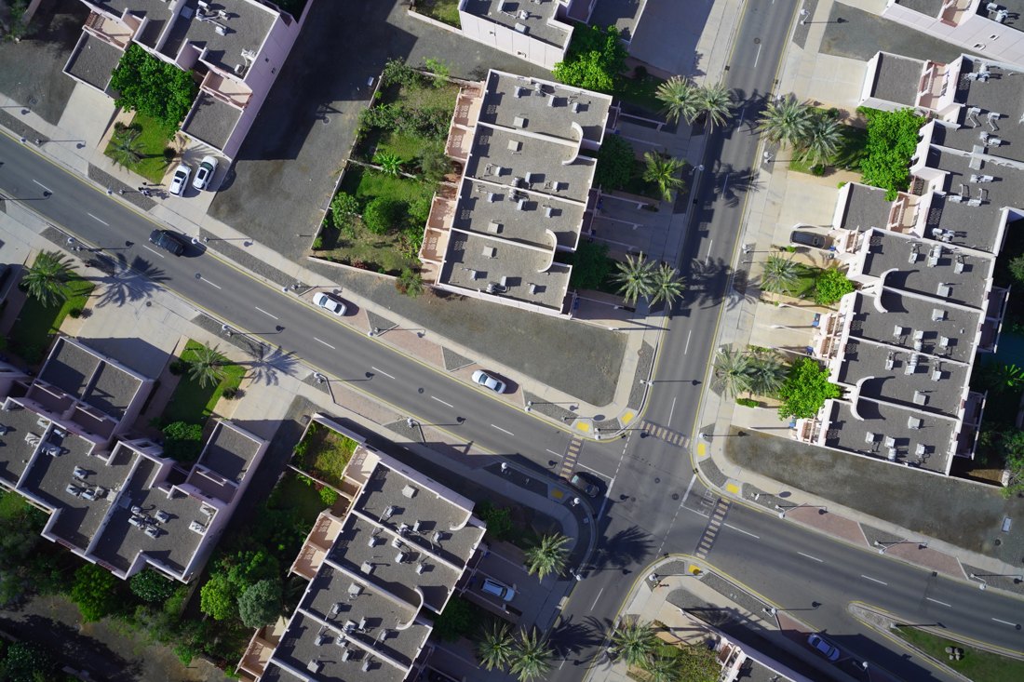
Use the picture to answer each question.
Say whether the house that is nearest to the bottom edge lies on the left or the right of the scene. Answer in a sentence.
The house that is nearest to the bottom edge is on the right side of the image.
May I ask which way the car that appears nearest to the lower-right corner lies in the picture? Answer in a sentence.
In this picture, the car that appears nearest to the lower-right corner is oriented on a diagonal.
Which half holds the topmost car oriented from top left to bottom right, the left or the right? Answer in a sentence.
The topmost car oriented from top left to bottom right sits on the left side.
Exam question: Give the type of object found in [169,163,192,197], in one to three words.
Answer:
car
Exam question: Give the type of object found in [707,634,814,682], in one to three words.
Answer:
house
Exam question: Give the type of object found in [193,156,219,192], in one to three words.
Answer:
car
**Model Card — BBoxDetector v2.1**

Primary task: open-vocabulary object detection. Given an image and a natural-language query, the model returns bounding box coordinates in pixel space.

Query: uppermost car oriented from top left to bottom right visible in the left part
[150,229,188,258]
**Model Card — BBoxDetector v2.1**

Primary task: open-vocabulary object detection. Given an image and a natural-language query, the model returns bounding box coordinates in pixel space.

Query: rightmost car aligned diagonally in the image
[806,631,840,660]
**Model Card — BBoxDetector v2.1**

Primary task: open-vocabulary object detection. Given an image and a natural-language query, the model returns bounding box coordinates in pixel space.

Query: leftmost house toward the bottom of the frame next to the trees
[0,337,272,582]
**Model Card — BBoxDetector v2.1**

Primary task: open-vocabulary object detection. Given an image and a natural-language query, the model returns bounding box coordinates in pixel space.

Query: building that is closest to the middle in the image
[417,70,620,319]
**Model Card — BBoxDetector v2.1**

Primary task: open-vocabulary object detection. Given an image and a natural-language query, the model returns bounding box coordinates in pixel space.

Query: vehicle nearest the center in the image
[471,370,507,394]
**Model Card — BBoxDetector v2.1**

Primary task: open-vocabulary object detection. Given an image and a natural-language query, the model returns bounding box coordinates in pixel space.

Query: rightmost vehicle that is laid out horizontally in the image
[788,230,826,250]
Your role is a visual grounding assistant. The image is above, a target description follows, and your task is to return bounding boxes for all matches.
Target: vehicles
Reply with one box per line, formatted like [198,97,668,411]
[416,667,451,682]
[169,163,192,197]
[806,631,840,660]
[788,230,826,250]
[150,229,188,258]
[481,577,515,600]
[471,370,507,394]
[313,291,348,317]
[568,471,602,497]
[193,156,219,192]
